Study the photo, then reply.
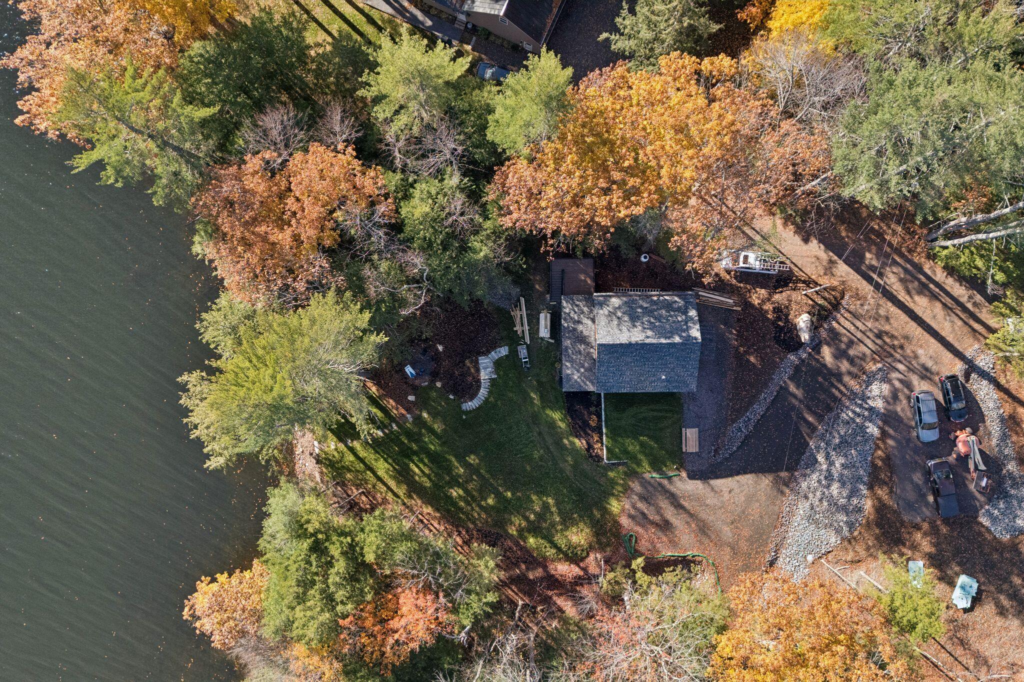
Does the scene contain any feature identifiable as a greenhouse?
No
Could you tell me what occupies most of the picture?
trees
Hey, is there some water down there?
Yes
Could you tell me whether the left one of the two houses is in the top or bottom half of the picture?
top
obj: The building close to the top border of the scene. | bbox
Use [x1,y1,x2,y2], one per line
[434,0,568,60]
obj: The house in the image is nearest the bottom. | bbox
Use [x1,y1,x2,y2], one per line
[561,288,704,394]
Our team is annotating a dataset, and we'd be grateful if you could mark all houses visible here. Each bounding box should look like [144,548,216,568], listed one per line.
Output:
[434,0,568,60]
[561,288,704,394]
